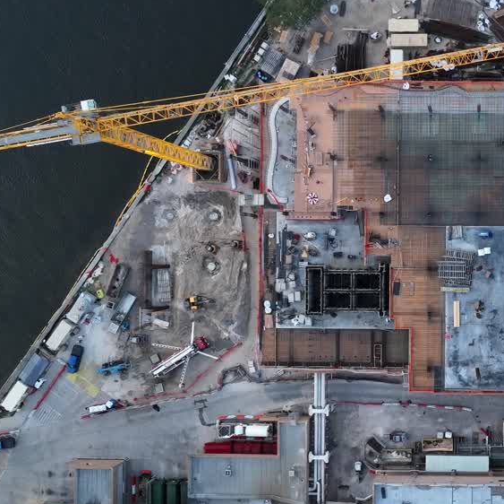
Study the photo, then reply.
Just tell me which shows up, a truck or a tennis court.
truck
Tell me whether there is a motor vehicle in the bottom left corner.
Yes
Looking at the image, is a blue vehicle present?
Yes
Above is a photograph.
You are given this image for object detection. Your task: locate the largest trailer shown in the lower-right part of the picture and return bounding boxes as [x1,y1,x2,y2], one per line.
[427,450,489,472]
